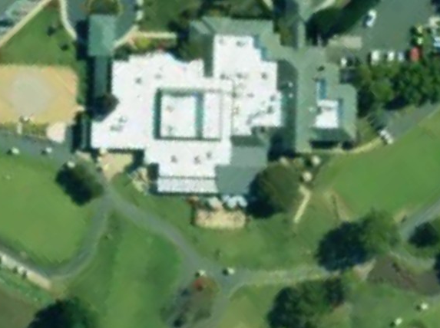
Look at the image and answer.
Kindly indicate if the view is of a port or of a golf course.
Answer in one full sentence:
What you see here is a golf course.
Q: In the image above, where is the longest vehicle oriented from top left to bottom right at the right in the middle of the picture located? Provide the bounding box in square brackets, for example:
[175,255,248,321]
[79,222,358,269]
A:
[379,128,393,145]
